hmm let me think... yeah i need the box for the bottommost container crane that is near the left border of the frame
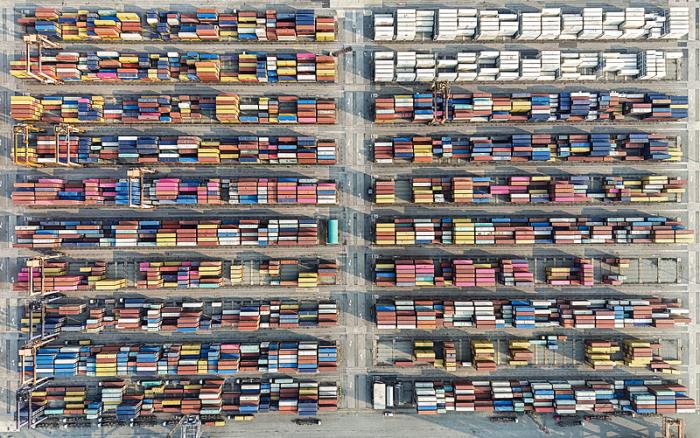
[14,377,55,428]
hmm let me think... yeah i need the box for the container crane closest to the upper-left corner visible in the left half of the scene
[21,27,66,85]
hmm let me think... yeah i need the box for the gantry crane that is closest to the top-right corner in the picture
[423,73,449,126]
